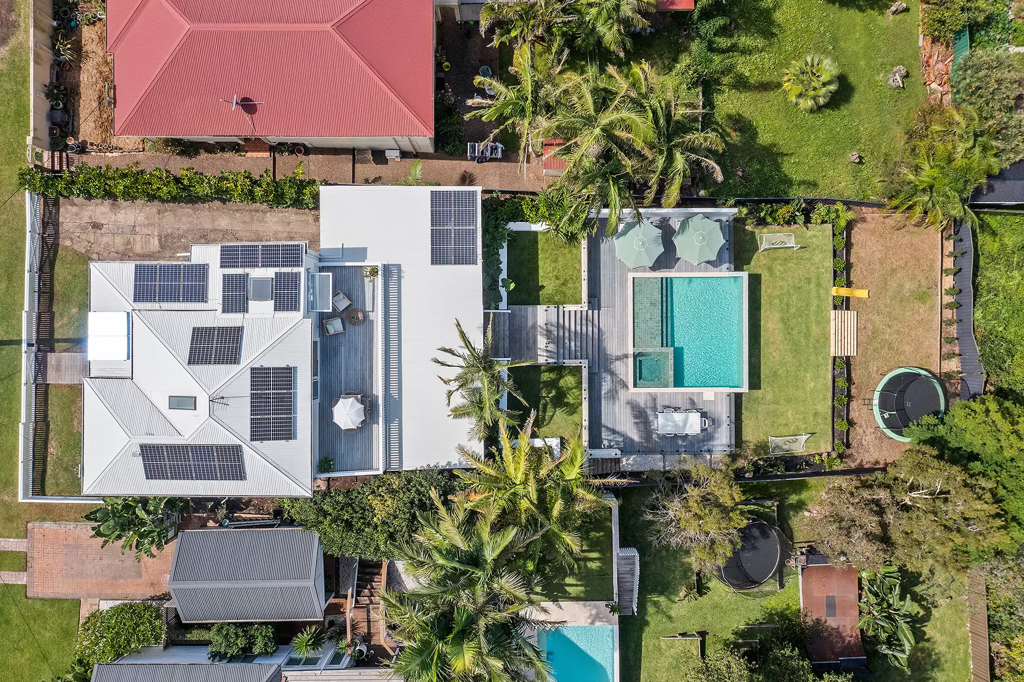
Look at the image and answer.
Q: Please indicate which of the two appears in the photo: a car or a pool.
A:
pool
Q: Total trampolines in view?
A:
2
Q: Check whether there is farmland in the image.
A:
No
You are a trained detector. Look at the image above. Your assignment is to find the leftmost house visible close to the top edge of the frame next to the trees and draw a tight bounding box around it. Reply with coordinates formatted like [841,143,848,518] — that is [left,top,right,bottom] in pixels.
[105,0,438,157]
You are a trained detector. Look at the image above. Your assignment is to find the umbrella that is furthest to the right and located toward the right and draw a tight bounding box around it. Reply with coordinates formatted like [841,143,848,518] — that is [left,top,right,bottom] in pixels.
[671,213,724,266]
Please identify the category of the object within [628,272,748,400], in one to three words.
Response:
swimming pool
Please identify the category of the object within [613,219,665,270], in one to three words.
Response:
umbrella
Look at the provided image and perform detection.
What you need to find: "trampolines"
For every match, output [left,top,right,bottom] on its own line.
[712,515,794,598]
[854,367,959,443]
